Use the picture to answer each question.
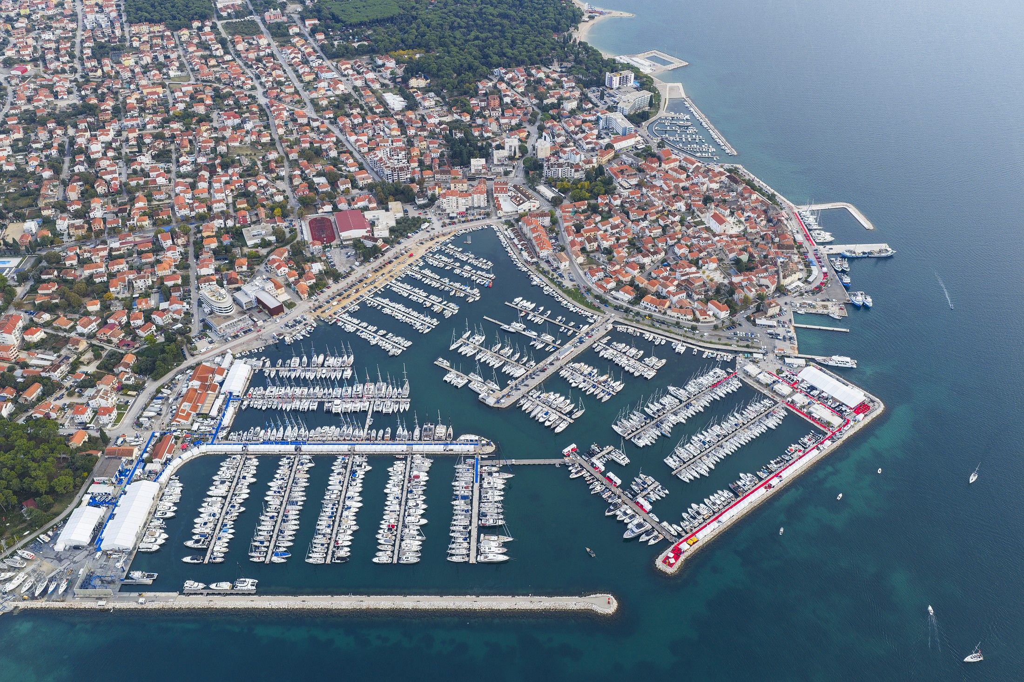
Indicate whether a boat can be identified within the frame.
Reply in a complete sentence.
Yes, you can see a boat in this photo.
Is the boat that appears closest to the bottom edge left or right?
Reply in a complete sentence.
The boat that appears closest to the bottom edge is on the right side of the image.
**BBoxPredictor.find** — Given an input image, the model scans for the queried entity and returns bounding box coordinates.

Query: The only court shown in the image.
[309,216,335,243]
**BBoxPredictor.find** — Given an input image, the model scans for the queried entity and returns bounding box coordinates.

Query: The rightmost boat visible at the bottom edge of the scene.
[964,637,988,662]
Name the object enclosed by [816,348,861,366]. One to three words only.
boat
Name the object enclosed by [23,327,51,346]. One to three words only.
house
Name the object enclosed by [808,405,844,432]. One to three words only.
building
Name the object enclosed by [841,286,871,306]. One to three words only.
boat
